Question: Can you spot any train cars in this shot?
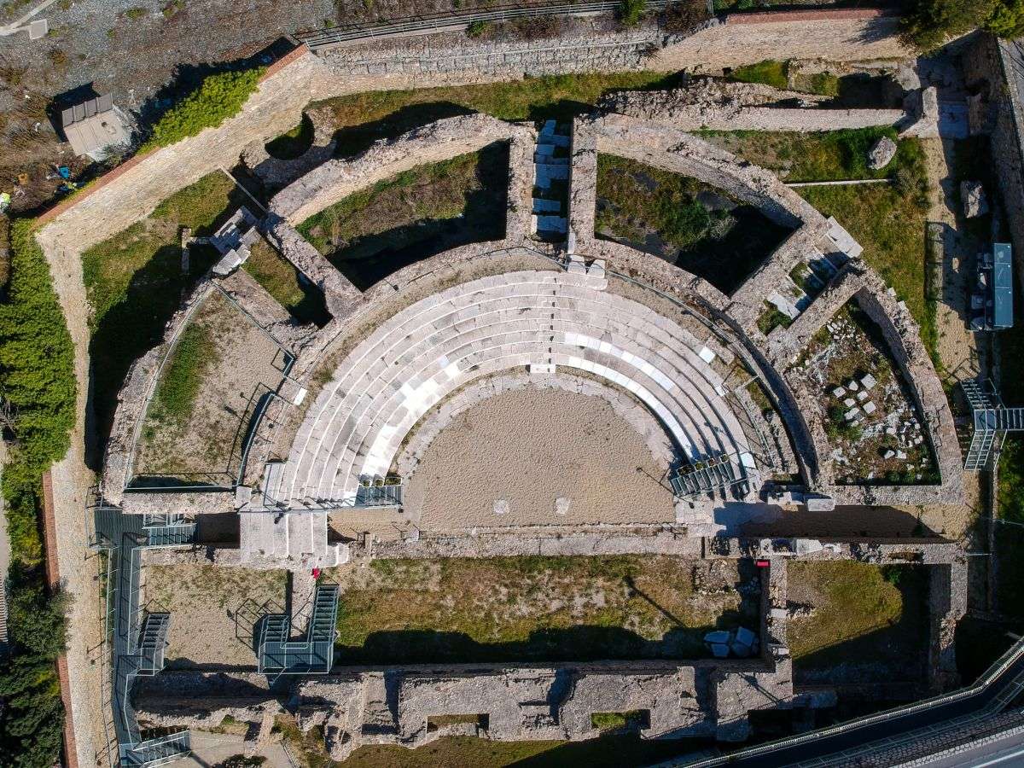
No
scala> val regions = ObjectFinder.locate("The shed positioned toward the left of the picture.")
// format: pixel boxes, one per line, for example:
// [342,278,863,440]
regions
[62,93,144,164]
